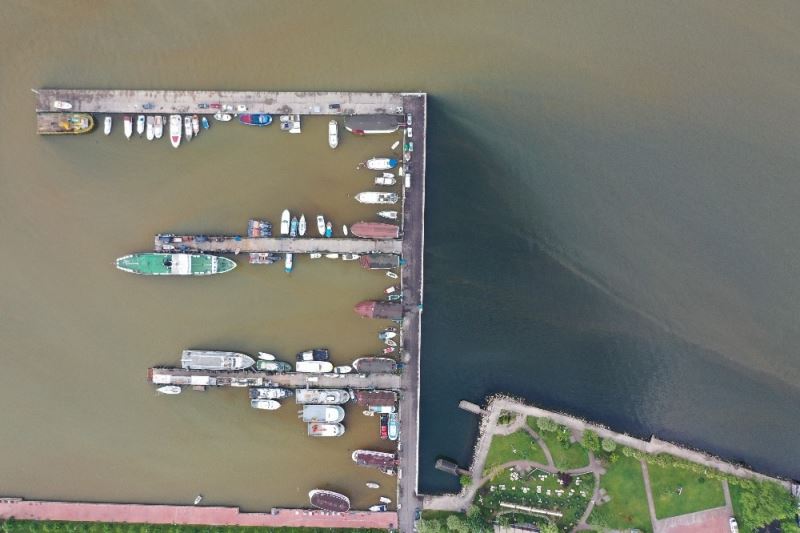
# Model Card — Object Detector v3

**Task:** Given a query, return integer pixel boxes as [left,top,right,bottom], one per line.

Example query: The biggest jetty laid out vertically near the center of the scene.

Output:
[398,93,427,497]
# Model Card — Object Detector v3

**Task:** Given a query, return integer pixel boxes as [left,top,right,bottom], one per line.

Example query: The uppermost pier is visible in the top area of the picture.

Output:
[36,90,404,116]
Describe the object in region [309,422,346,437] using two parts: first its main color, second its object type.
white ship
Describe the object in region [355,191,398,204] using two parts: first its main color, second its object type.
white boat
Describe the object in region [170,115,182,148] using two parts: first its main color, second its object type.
white boat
